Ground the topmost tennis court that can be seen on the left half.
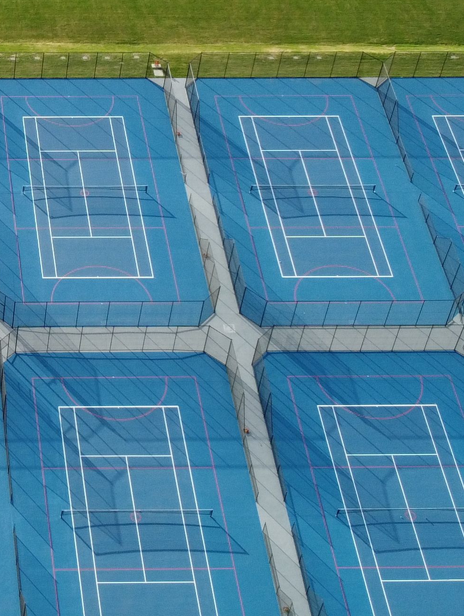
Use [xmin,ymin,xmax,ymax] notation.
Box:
[0,78,212,326]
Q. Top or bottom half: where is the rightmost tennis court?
top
